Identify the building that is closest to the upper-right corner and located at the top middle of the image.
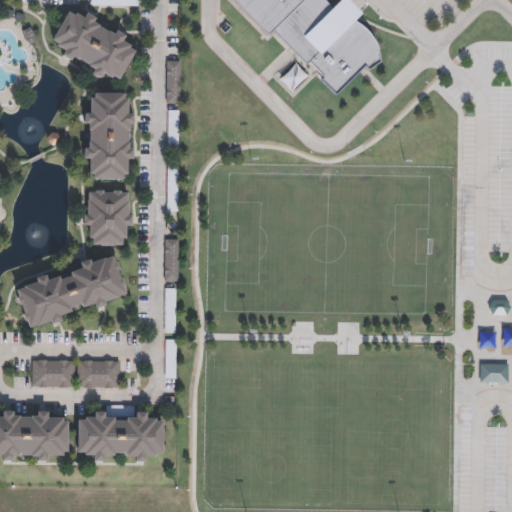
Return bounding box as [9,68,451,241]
[235,0,381,94]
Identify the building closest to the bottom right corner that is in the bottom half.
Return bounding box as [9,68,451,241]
[480,362,508,384]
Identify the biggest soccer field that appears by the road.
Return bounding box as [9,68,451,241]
[218,166,437,324]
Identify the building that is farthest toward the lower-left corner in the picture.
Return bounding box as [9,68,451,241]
[0,410,70,461]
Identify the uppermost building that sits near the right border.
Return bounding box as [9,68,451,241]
[488,298,510,316]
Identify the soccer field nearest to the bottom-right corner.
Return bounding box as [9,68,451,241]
[344,358,444,508]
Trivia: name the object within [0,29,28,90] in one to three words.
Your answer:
swimming pool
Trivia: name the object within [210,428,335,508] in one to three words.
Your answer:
soccer field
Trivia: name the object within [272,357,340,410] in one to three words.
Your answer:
soccer field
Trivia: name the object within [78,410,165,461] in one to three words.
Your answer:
building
